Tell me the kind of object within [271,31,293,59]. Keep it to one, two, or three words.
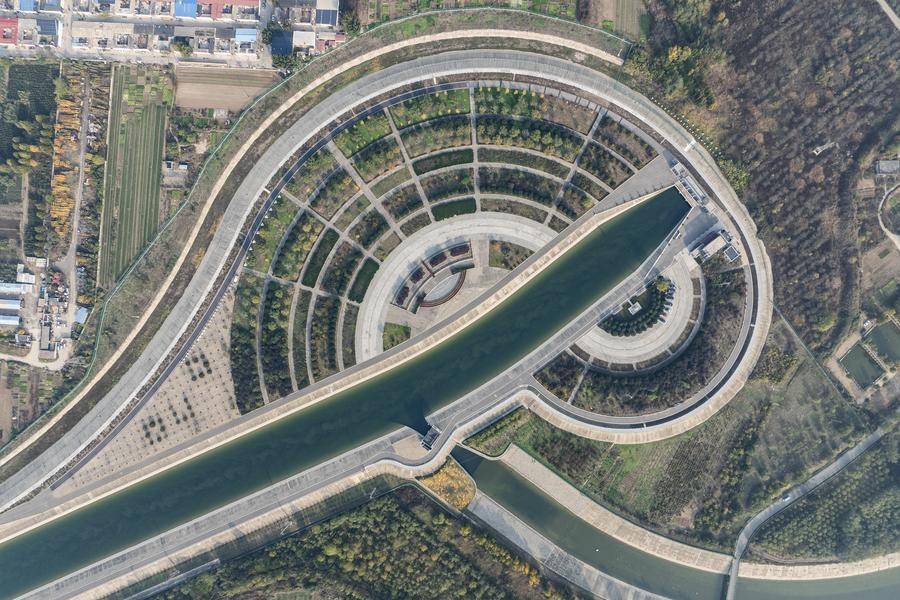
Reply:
house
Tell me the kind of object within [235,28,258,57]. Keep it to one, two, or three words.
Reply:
house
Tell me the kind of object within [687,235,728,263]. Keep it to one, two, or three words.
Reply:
building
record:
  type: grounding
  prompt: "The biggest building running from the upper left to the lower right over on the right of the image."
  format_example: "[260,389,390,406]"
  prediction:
[670,163,712,214]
